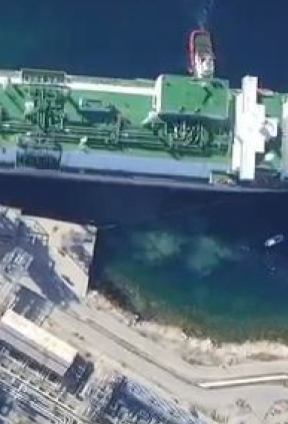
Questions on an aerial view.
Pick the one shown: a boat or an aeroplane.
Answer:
boat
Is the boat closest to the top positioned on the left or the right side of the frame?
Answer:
right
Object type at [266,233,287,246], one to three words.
boat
